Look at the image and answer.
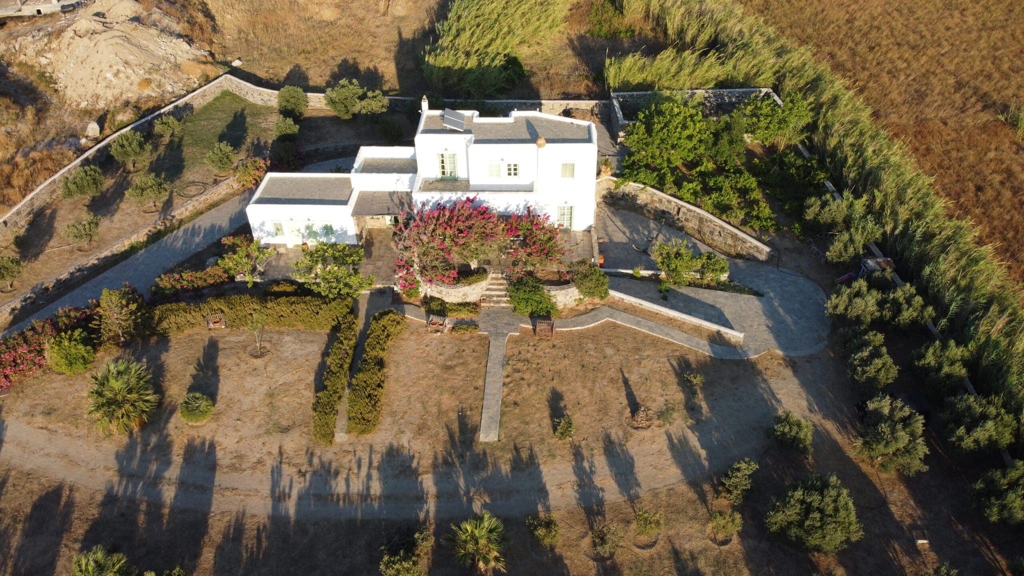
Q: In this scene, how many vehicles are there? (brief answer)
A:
zero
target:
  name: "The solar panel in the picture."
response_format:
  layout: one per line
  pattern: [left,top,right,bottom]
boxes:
[444,109,465,132]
